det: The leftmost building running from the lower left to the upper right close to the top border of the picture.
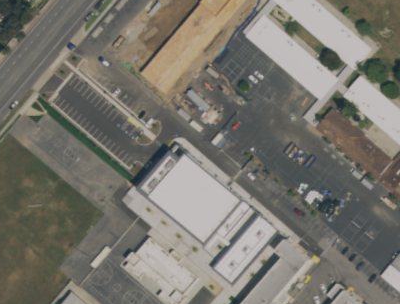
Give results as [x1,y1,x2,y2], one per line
[141,0,246,94]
